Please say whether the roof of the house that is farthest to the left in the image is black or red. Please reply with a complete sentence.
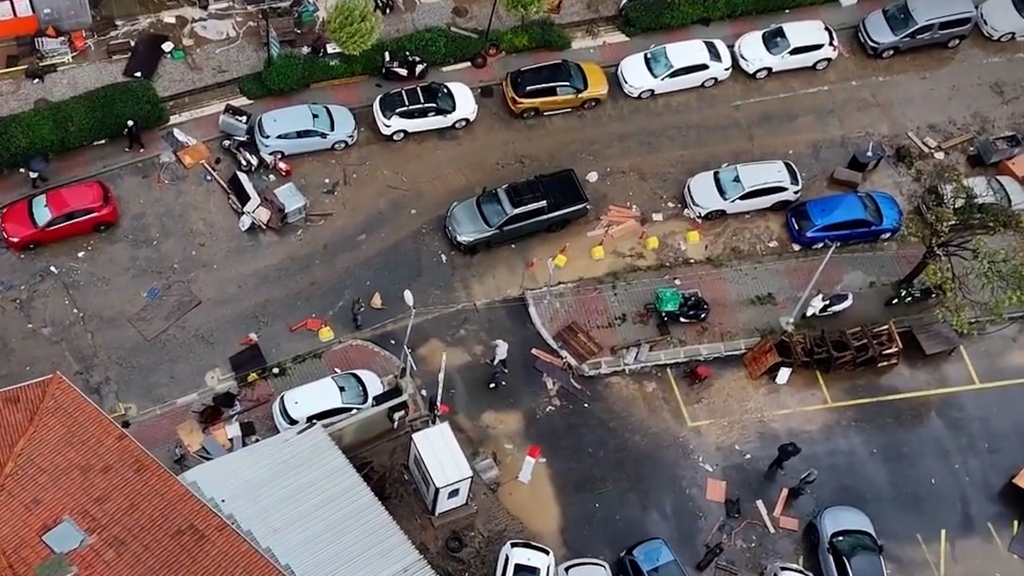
The color of the roof of the house that is farthest to the left is red.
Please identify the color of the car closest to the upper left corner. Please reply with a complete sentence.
The car closest to the upper left corner is red.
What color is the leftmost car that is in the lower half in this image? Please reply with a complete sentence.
The color of the leftmost car that is in the lower half is white.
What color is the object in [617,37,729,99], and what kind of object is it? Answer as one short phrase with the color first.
white car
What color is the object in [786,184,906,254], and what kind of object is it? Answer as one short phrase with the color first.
blue car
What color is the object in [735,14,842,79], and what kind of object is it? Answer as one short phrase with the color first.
white car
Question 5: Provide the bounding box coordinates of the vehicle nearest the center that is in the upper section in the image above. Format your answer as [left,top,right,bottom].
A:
[439,165,591,253]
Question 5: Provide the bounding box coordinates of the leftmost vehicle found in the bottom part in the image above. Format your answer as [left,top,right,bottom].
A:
[268,364,387,434]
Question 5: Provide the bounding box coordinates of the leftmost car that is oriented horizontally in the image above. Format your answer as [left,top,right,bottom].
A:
[0,176,121,251]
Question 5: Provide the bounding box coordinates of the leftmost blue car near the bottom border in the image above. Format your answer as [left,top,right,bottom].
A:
[619,535,690,576]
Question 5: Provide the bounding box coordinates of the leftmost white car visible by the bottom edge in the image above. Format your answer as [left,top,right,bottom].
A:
[493,537,556,576]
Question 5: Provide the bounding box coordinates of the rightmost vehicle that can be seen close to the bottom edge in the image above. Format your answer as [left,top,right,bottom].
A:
[812,506,888,576]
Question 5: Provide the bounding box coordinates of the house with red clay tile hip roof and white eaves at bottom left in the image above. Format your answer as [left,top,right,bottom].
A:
[0,370,295,576]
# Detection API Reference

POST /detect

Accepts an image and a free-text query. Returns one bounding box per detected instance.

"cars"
[856,0,979,59]
[558,555,617,576]
[619,535,690,576]
[0,176,121,251]
[501,53,610,120]
[493,537,556,576]
[786,184,906,254]
[617,37,729,99]
[371,73,480,141]
[251,96,358,162]
[735,14,842,79]
[977,0,1024,42]
[812,506,888,576]
[684,153,806,221]
[268,364,387,434]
